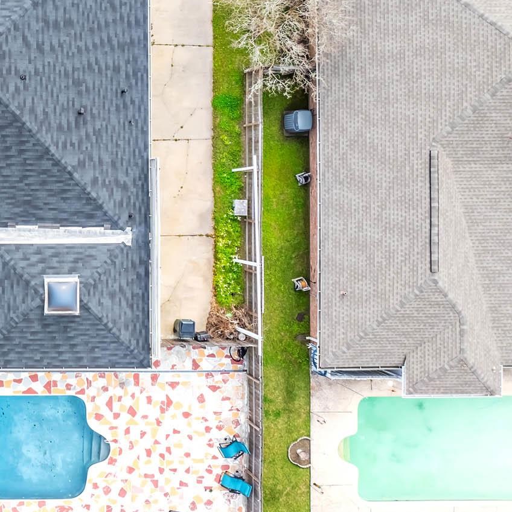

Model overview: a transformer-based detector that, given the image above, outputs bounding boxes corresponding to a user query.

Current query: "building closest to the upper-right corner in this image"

[293,0,512,398]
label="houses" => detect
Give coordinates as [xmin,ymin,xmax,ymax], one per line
[293,0,512,398]
[0,0,160,370]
